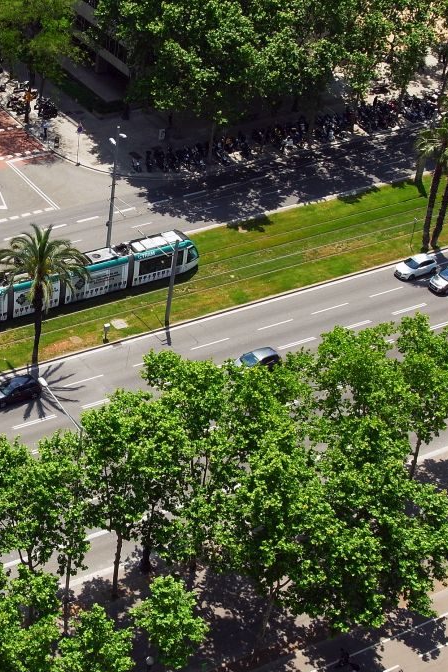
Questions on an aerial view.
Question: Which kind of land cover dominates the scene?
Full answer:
The largest share of the image is taken up by trees.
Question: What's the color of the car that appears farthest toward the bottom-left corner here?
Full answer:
In this view, the car that appears farthest toward the bottom-left corner is black.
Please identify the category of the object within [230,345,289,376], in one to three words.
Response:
car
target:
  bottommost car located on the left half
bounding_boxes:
[0,370,43,406]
